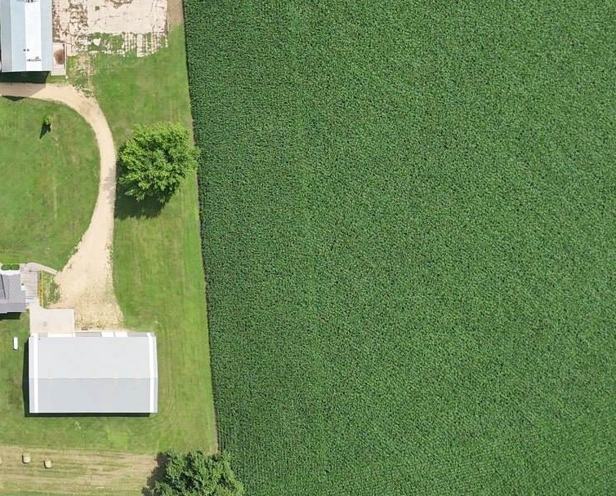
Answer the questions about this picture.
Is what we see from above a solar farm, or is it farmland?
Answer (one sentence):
The area seen from above is farmland.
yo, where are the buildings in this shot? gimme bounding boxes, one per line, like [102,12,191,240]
[29,332,159,413]
[0,0,53,72]
[0,266,26,313]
